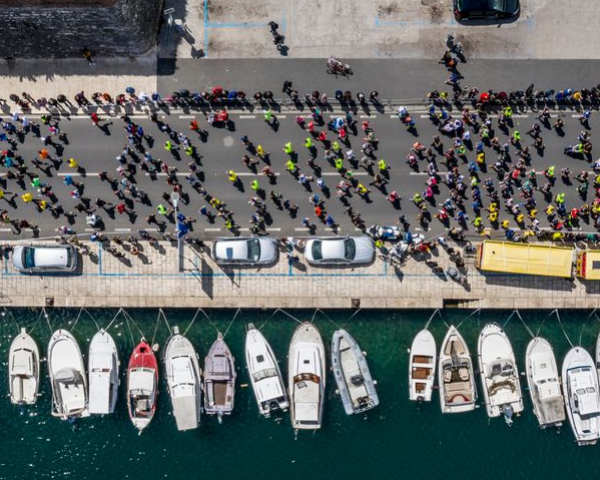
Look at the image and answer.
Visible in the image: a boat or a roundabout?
boat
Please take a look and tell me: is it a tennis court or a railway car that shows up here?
railway car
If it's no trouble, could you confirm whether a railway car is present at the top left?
No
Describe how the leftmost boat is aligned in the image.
up and down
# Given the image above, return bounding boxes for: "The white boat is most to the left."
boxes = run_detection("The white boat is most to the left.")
[4,308,43,409]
